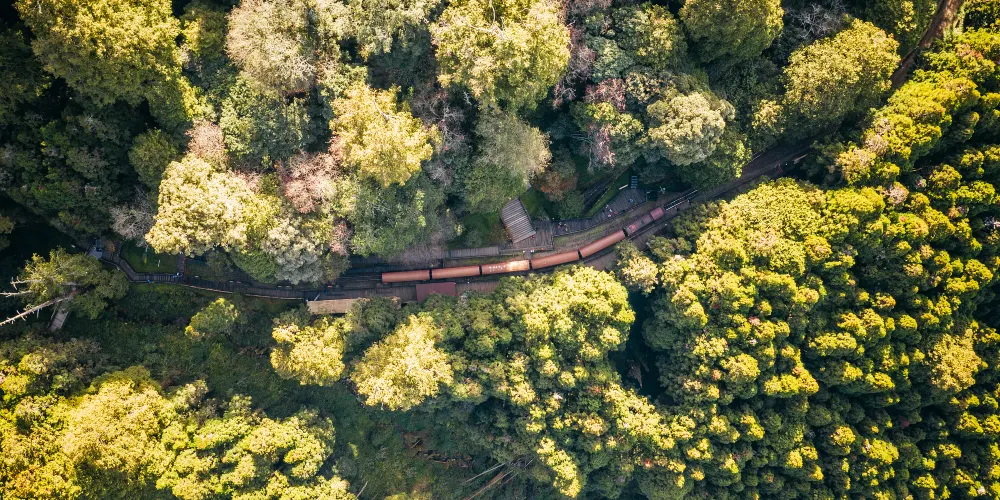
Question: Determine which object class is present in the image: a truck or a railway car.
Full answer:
Visible in the photo is a railway car.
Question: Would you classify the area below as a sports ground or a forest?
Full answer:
The picture captures a forest.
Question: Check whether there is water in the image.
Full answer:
No, there's no water in this view.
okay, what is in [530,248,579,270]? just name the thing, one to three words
rail car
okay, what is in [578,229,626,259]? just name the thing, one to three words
rail car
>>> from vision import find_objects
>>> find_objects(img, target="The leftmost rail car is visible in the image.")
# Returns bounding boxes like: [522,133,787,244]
[383,267,432,282]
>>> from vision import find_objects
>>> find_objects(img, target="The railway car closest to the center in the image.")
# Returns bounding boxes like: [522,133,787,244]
[481,258,529,275]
